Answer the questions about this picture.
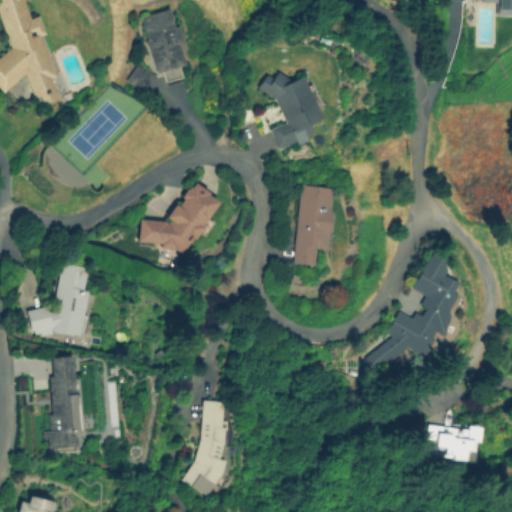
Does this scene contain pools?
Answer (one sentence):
Yes, the picture does show a pool.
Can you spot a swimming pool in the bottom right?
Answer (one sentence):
No, in the bottom right there is no swimming pool.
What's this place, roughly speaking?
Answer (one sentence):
This looks like a residential area.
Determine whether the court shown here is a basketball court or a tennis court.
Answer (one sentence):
I'd identify the court as a tennis court.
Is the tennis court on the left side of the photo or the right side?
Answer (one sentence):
The tennis court is on the left side of the image.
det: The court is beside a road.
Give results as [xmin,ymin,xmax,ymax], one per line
[52,86,146,186]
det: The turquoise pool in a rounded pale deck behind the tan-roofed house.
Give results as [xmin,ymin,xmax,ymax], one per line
[54,44,90,92]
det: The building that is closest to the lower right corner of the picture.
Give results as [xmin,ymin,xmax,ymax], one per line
[428,425,486,462]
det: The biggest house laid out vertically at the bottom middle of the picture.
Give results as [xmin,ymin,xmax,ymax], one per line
[183,401,228,496]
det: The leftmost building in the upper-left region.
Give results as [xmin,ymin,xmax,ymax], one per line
[0,0,62,105]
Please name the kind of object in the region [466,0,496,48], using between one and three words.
swimming pool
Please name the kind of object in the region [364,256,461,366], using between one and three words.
house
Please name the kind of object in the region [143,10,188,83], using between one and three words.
house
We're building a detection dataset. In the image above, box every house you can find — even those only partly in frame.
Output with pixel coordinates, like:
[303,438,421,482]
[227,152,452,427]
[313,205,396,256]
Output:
[364,256,461,366]
[0,0,62,105]
[140,184,222,252]
[183,401,228,496]
[258,70,325,149]
[296,185,333,266]
[498,0,512,16]
[428,425,486,462]
[28,266,89,337]
[143,10,188,83]
[19,496,57,512]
